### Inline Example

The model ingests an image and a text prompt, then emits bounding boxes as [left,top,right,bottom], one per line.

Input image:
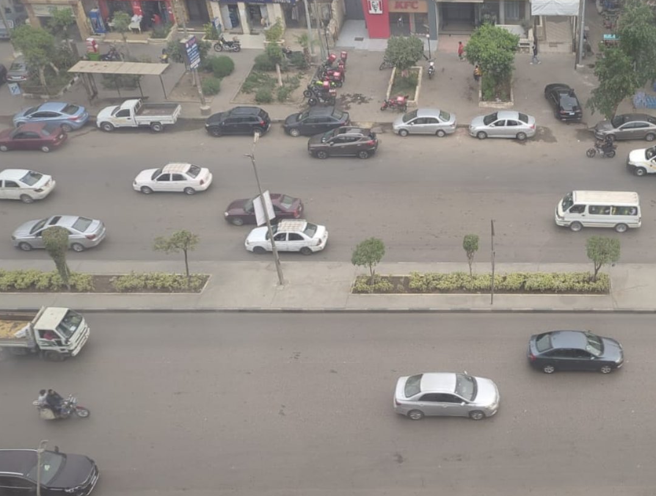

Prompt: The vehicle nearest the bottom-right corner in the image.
[523,328,627,373]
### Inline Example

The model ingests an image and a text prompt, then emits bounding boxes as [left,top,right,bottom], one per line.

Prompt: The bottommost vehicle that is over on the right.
[388,370,500,419]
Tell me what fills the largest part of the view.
paved ground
